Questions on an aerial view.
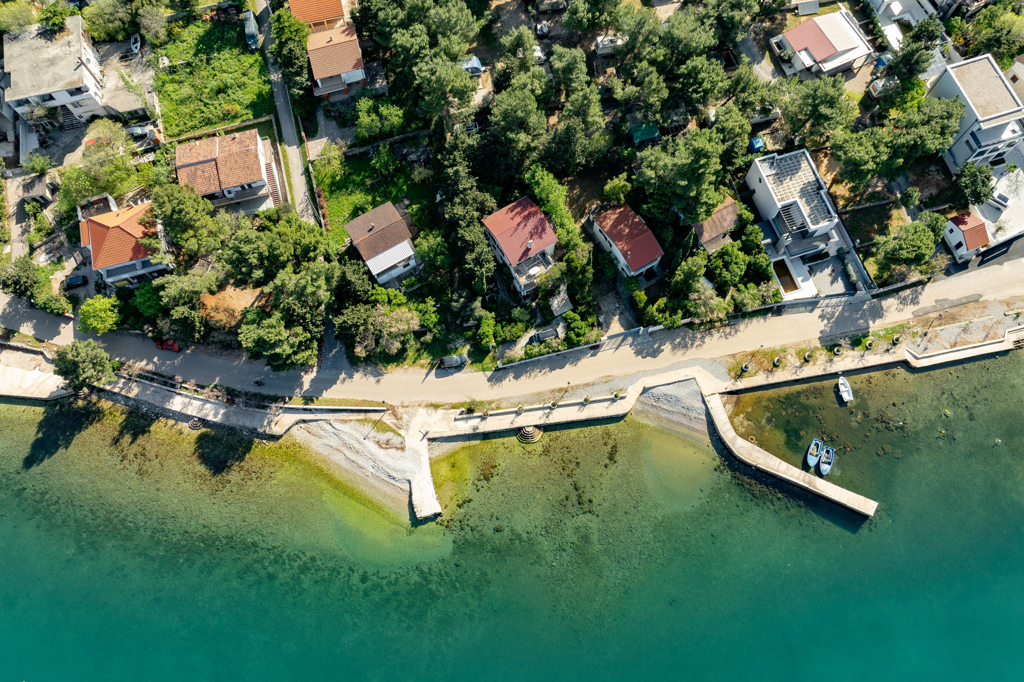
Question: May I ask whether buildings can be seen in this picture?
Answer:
Yes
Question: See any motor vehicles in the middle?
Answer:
Yes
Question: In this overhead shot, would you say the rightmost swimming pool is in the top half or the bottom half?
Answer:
top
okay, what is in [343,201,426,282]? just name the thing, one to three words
house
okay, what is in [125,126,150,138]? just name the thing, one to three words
vehicle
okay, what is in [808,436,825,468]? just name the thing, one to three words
boat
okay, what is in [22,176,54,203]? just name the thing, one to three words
shed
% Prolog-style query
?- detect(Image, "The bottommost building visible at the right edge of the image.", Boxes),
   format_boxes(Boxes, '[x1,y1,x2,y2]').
[936,212,989,266]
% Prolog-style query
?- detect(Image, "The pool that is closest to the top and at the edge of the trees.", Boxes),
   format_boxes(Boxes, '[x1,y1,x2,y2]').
[891,13,918,38]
